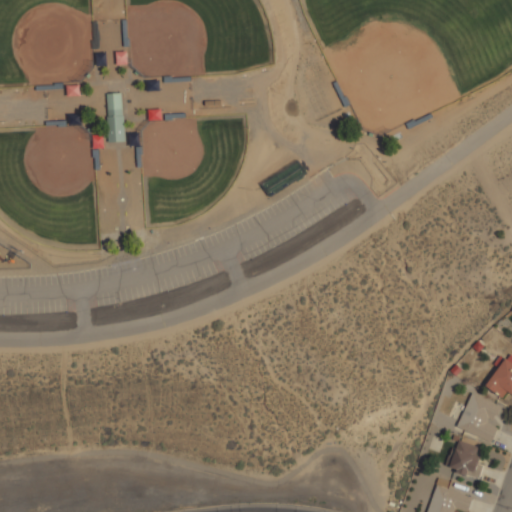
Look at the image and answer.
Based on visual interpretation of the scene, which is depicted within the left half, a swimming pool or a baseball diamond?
baseball diamond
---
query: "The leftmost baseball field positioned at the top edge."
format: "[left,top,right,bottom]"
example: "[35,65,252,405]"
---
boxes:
[0,0,94,85]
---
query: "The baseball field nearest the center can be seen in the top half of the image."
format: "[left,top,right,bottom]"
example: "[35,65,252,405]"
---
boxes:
[142,118,243,222]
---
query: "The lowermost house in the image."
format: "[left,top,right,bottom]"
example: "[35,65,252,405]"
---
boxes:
[426,484,468,512]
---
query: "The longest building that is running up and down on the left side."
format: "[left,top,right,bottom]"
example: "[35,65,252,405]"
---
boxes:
[106,92,126,142]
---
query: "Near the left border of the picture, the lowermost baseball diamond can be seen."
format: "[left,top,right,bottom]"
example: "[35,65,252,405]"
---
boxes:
[0,126,96,244]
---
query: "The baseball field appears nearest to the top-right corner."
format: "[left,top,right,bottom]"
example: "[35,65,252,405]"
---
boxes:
[306,0,512,132]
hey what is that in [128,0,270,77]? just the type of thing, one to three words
baseball field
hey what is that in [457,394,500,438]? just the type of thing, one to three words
house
